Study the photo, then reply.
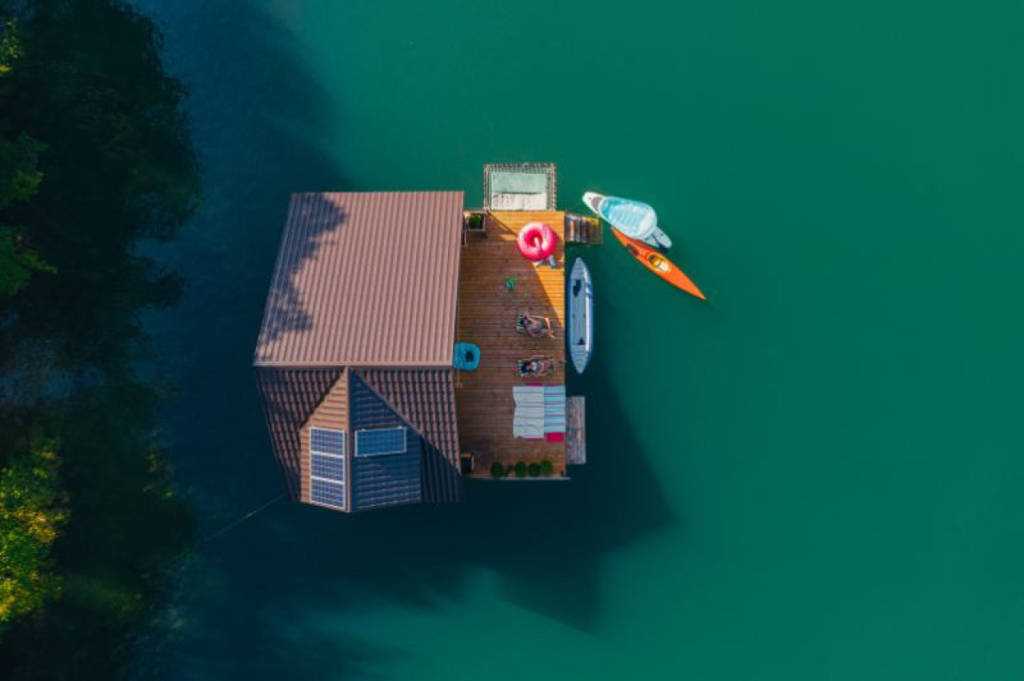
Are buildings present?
Yes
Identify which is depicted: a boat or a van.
boat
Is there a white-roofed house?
No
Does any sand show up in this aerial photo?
No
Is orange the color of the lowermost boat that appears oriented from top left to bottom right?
Yes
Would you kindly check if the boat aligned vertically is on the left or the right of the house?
to the right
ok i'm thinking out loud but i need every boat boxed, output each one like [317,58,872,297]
[612,228,706,300]
[599,197,658,233]
[567,258,594,374]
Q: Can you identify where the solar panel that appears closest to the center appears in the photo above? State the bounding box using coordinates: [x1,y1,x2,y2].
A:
[353,429,404,459]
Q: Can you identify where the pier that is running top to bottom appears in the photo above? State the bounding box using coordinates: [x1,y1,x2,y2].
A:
[567,397,586,465]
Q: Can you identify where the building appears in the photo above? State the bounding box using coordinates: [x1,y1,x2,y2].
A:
[254,189,466,515]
